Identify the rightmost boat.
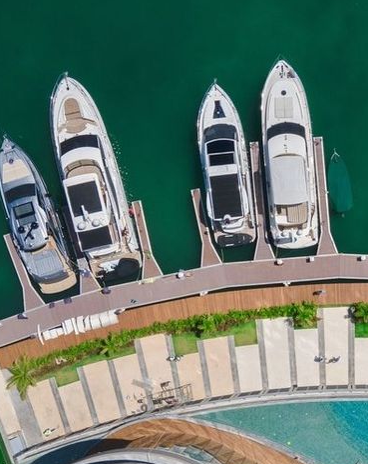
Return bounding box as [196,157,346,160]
[261,51,320,251]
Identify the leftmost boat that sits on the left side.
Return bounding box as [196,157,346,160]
[0,132,80,297]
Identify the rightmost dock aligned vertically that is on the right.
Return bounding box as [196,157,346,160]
[314,137,338,255]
